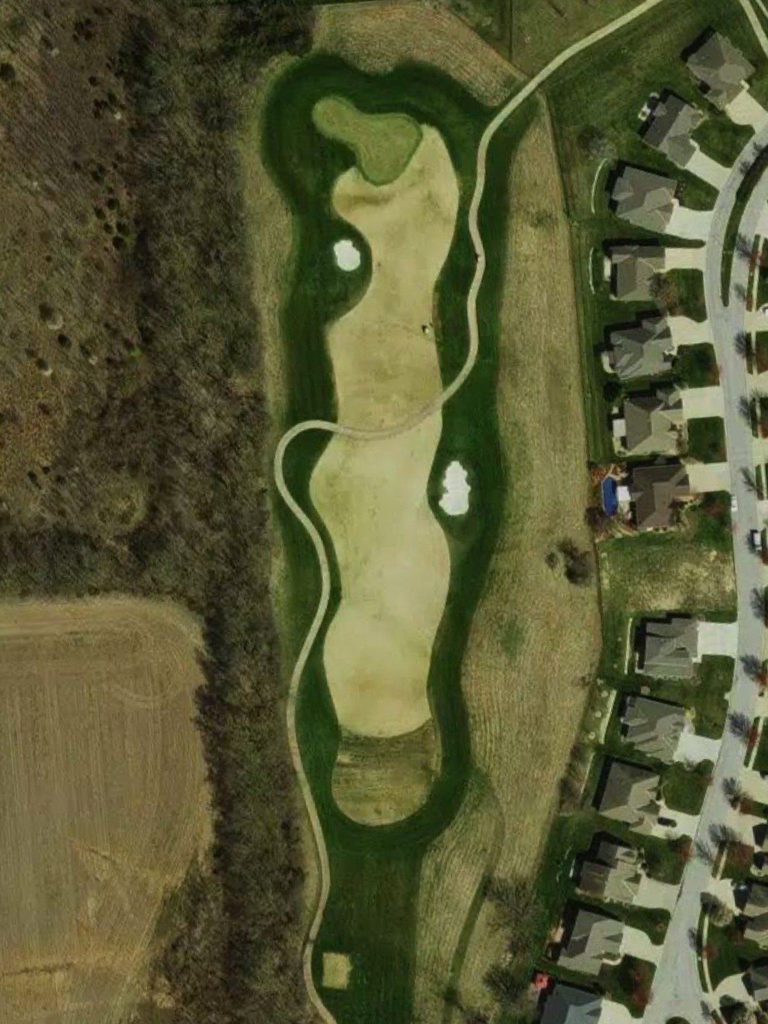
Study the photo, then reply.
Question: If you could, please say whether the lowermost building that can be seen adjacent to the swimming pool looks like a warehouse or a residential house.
residential house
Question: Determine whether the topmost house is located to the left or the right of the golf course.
on the right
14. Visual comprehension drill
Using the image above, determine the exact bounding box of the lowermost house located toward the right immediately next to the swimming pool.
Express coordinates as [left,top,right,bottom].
[632,464,690,529]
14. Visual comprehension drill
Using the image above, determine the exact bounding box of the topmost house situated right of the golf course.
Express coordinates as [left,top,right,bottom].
[685,32,750,111]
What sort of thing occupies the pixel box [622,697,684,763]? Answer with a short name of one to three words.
house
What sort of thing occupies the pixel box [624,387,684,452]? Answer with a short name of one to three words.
house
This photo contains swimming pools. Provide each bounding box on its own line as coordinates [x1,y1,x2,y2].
[602,477,618,517]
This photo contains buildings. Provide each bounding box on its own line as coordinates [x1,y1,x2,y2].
[632,464,690,529]
[685,32,750,111]
[578,839,641,905]
[600,762,662,835]
[624,387,684,452]
[644,618,698,678]
[610,167,677,235]
[643,95,703,169]
[545,984,607,1024]
[622,697,684,763]
[611,316,673,379]
[610,246,665,300]
[746,951,768,1008]
[559,907,624,974]
[744,882,768,945]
